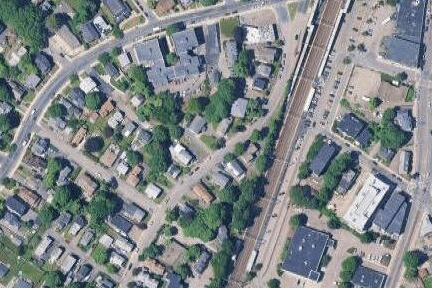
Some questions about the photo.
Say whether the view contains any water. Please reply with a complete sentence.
No, the picture contains no water.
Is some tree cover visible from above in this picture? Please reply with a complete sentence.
Yes, there is tree cover in the image.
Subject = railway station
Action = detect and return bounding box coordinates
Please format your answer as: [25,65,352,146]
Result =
[287,0,351,121]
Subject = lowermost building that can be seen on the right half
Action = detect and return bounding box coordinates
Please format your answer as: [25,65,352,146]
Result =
[352,266,388,288]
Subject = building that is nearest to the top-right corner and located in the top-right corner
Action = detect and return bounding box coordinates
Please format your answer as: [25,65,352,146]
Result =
[394,0,427,44]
